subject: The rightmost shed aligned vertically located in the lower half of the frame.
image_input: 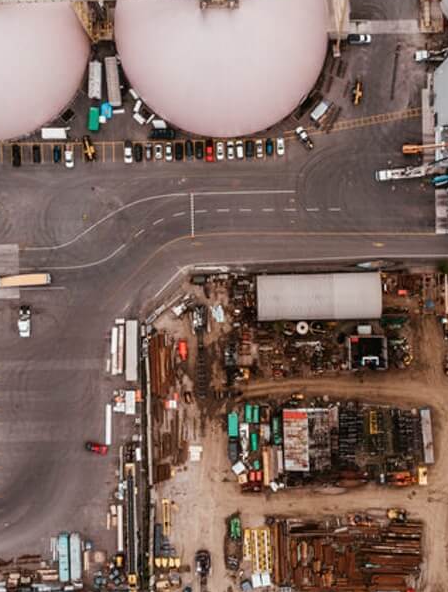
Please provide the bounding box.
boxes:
[309,407,338,470]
